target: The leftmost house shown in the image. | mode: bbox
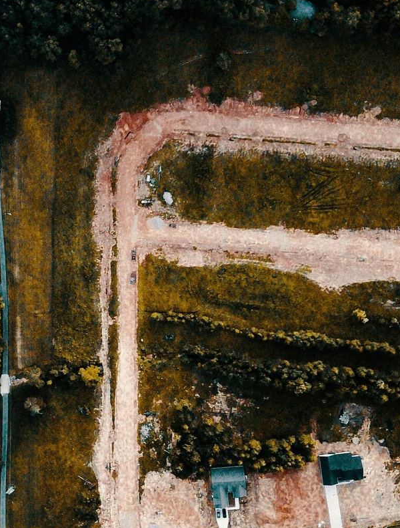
[210,464,248,510]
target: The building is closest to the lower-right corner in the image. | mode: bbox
[319,453,364,485]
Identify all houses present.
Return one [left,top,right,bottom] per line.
[319,453,364,485]
[210,464,248,510]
